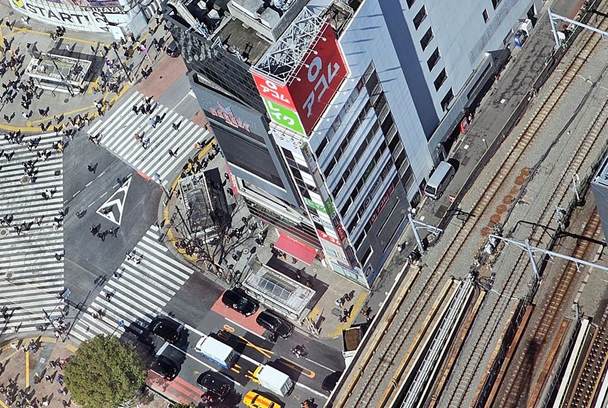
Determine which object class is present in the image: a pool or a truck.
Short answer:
truck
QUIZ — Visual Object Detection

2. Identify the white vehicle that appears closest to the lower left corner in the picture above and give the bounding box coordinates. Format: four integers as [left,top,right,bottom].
[193,333,238,369]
